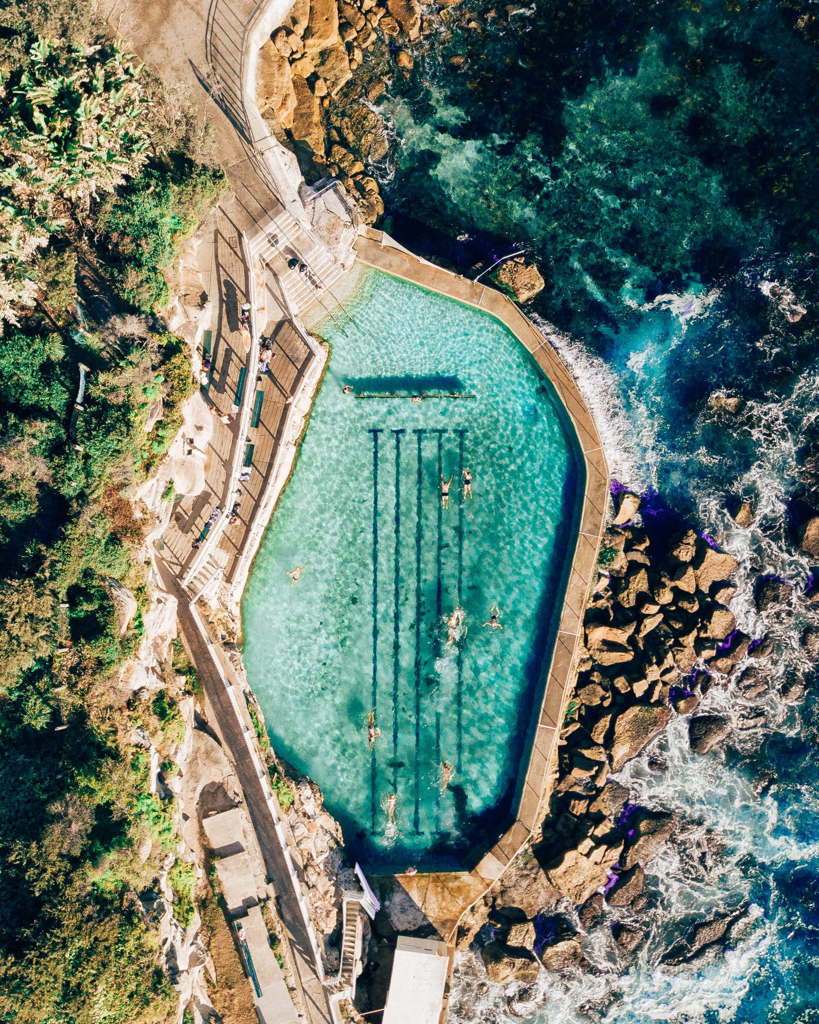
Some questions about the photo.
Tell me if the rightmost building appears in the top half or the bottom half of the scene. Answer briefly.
bottom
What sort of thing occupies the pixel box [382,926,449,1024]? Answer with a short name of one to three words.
building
